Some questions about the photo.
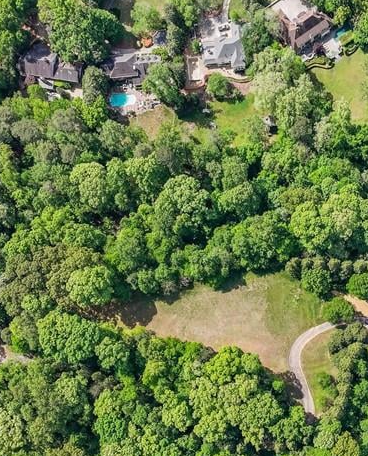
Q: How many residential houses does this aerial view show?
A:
4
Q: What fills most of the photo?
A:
trees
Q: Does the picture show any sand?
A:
No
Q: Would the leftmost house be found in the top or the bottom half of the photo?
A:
top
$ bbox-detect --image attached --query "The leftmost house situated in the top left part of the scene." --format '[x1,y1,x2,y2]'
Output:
[22,45,83,86]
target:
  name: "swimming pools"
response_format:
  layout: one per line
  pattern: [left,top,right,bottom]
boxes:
[108,92,136,108]
[334,27,349,42]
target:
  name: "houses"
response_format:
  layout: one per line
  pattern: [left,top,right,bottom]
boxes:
[203,19,246,75]
[277,7,333,58]
[109,49,161,85]
[22,45,83,86]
